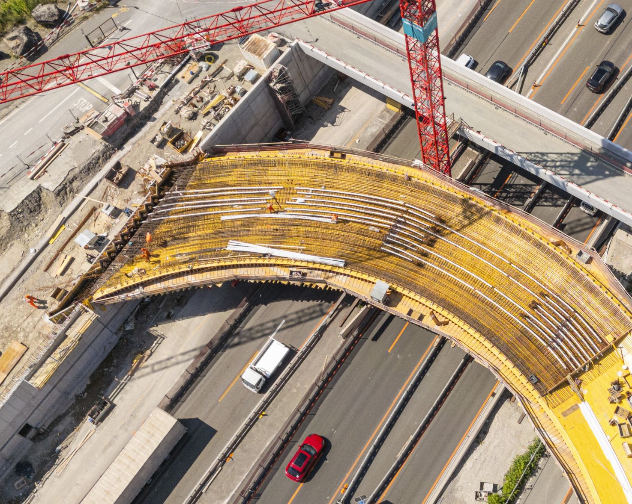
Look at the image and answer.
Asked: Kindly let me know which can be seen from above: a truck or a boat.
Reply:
truck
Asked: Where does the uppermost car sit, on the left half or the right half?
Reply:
right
